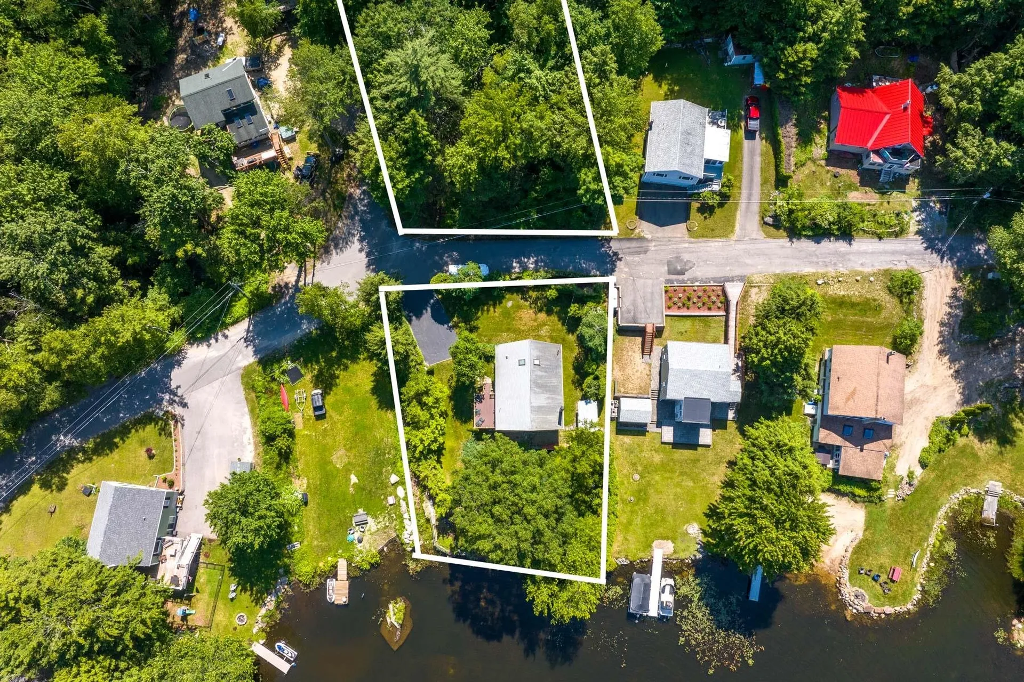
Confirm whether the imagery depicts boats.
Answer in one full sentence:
Yes, there's a boat here.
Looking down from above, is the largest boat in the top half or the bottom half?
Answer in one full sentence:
It is in the bottom half that the largest boat appears.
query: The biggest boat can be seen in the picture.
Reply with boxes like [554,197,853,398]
[630,571,652,623]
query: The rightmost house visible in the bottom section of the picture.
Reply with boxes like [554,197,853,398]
[801,345,906,481]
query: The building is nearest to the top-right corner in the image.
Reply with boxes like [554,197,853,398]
[827,79,934,184]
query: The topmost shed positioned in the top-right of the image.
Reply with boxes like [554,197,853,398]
[729,33,763,65]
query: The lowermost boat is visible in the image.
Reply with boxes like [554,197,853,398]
[274,645,297,662]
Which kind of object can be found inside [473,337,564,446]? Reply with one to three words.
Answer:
house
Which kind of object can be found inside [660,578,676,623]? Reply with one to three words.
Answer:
boat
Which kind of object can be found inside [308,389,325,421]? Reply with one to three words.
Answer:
car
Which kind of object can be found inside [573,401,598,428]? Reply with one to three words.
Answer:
shed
